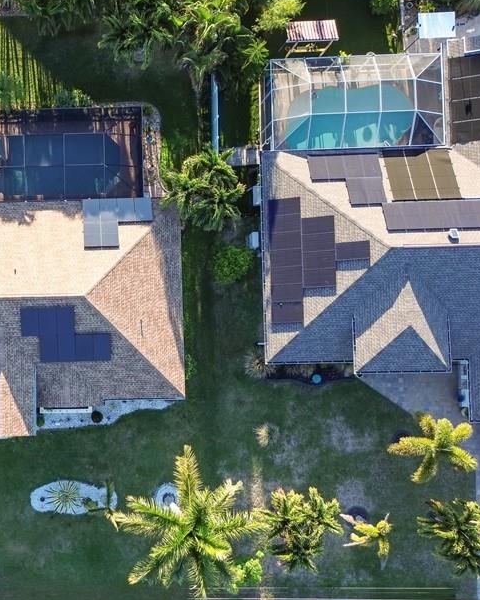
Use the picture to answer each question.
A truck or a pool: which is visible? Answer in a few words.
pool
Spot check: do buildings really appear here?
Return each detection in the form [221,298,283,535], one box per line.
[0,199,185,439]
[261,36,480,422]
